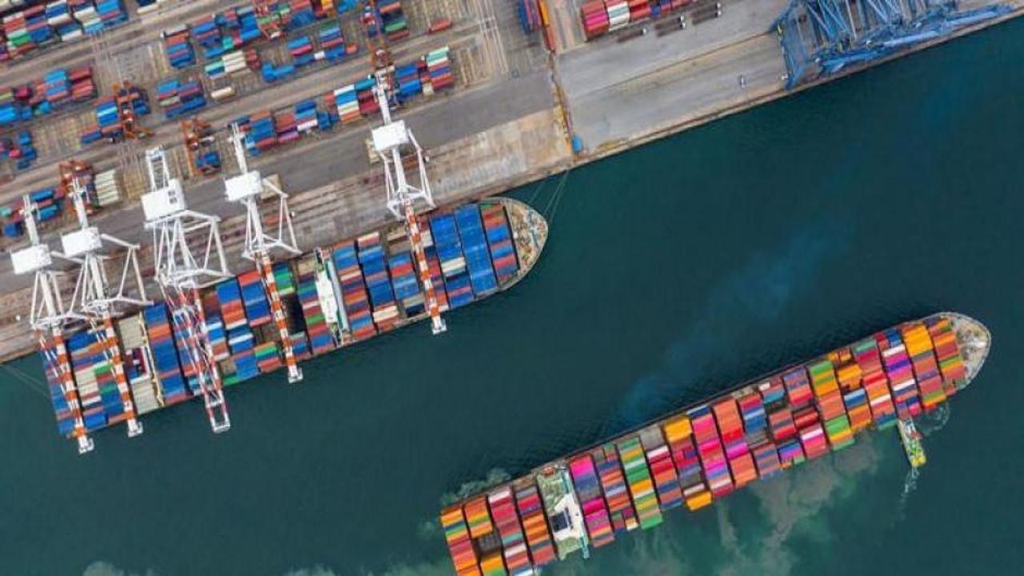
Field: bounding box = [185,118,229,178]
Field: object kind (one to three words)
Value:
container crane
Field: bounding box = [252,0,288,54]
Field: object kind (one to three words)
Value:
container crane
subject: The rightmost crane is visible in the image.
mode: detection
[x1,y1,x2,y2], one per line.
[921,0,1005,41]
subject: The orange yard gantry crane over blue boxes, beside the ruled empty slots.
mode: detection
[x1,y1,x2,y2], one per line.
[110,86,156,146]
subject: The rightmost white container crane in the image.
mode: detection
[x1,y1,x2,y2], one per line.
[375,69,443,331]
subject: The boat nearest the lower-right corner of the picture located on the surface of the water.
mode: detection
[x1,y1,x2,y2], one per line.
[897,416,927,468]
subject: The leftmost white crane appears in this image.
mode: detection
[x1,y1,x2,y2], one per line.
[14,193,103,450]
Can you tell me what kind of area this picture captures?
port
